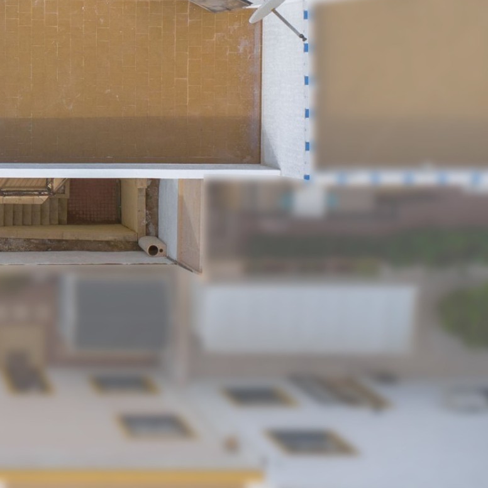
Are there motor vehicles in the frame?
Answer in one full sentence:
No, no motor vehicle is visible in the scene.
